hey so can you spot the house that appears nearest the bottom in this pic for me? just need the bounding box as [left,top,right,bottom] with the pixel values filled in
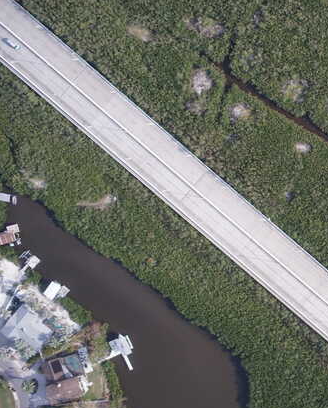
[44,376,89,405]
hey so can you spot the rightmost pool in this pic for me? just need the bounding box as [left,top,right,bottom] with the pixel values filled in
[62,351,85,380]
